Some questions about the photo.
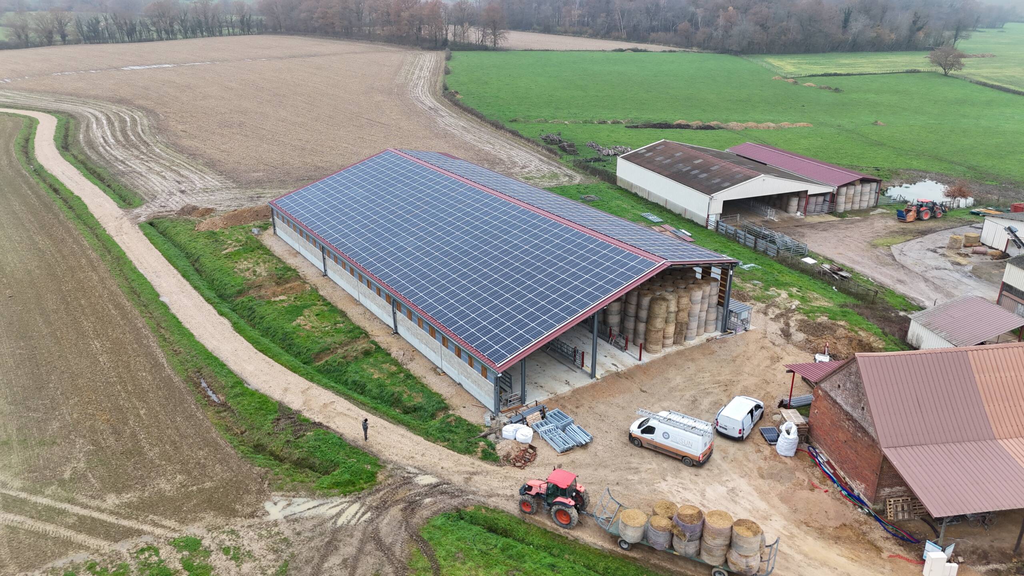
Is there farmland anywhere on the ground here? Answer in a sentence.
Yes, farmland can be seen from above here.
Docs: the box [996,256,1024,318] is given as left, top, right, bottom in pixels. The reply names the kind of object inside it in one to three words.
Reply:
shed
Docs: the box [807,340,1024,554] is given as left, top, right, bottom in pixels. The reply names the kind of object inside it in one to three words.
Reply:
barn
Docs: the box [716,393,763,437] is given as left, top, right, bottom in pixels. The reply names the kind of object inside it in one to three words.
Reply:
van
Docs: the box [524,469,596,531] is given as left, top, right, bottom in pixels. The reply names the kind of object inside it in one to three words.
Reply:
work vehicle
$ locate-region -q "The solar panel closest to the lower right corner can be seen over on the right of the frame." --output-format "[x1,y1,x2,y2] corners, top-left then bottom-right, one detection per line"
[758,423,779,438]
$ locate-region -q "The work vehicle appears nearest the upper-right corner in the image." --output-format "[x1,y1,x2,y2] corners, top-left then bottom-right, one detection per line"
[919,197,960,221]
